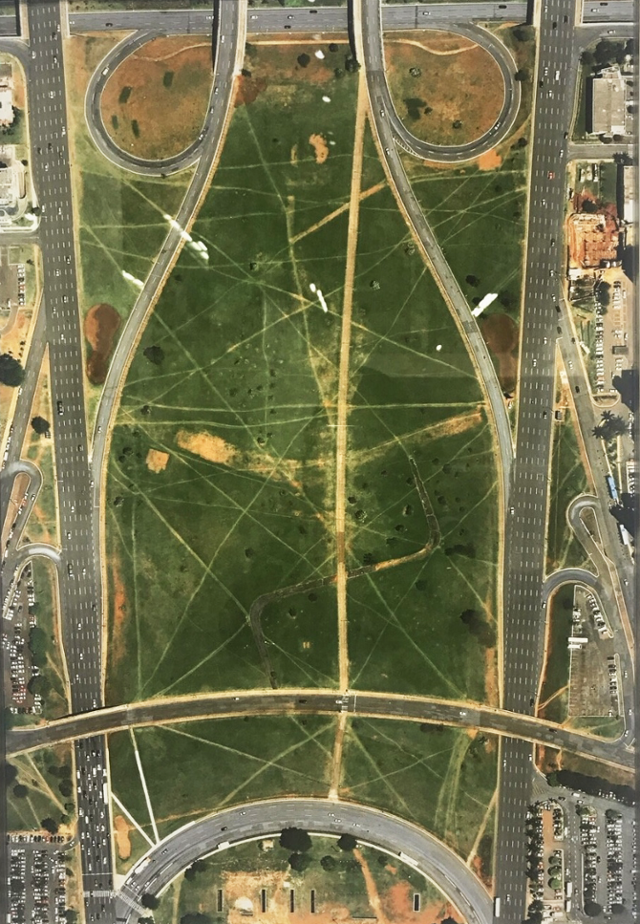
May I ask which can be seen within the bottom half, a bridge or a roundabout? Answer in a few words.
bridge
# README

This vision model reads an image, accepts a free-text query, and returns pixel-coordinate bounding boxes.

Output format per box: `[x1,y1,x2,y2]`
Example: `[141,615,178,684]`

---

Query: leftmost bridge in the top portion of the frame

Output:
[20,0,70,38]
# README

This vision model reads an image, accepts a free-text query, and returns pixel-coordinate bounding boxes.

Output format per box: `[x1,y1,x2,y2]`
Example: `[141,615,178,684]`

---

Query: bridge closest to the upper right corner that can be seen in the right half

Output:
[534,0,582,26]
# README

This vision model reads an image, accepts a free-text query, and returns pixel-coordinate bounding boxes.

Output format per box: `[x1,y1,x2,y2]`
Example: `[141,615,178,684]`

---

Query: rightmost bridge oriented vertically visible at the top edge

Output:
[354,0,385,72]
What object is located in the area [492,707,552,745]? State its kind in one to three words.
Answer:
bridge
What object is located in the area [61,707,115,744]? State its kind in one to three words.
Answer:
bridge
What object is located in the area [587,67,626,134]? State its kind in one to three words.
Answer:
building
